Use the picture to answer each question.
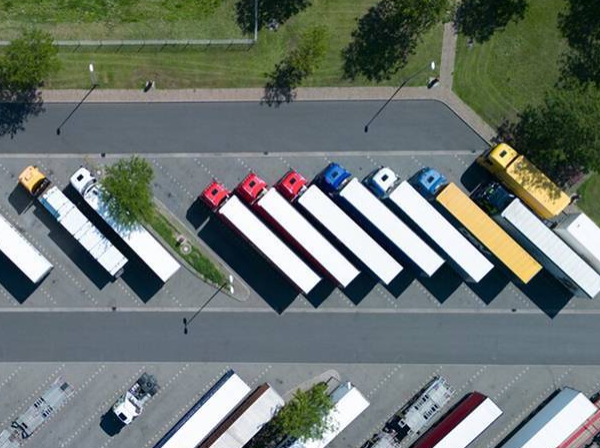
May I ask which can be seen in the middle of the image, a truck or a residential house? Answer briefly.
truck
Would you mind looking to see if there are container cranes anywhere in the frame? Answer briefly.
No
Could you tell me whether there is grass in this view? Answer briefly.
Yes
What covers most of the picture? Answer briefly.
paved ground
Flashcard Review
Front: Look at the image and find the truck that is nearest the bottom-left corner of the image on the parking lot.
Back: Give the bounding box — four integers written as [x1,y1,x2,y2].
[109,376,157,427]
